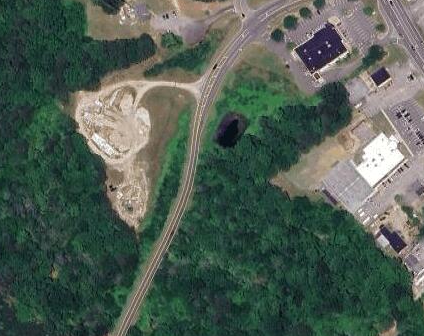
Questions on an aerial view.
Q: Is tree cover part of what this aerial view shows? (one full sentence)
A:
Yes, there is tree cover in the image.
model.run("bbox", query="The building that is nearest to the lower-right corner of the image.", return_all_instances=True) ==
[403,250,424,276]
